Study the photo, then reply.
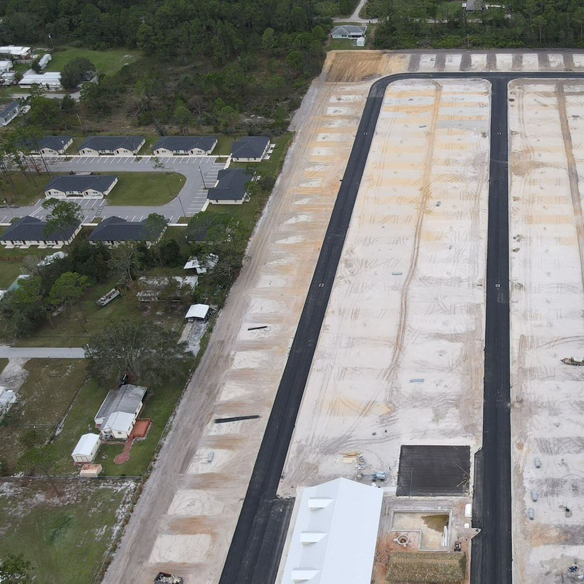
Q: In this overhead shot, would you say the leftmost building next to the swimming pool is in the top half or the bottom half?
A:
bottom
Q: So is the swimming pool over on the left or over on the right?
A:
right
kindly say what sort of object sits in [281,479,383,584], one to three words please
building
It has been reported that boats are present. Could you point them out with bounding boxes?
[95,290,120,305]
